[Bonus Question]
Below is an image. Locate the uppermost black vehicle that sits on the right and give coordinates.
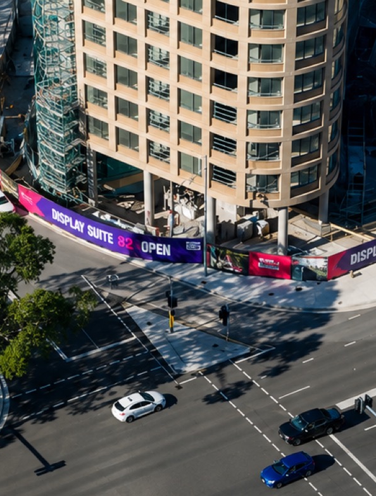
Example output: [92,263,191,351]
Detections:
[279,402,349,447]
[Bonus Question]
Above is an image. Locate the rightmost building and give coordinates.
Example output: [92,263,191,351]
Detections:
[72,0,357,255]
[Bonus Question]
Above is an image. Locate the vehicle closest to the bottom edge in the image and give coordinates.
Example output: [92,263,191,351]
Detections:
[261,449,318,489]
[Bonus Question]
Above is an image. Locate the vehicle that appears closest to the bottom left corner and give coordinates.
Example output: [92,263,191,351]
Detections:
[110,389,170,424]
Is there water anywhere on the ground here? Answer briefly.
No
